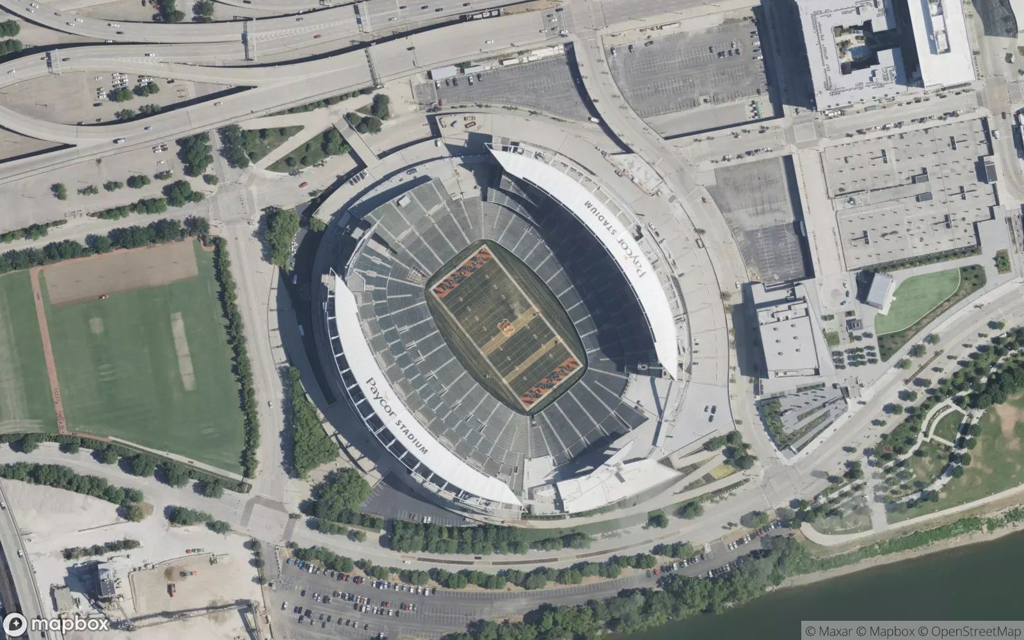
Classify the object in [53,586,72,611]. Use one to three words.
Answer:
building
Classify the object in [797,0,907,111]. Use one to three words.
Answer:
building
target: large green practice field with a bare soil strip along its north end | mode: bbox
[40,238,245,477]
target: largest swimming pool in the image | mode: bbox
[852,45,871,59]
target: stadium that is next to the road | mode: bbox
[320,137,691,520]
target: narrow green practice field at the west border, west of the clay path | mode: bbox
[0,269,58,433]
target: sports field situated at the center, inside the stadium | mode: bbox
[425,241,587,416]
